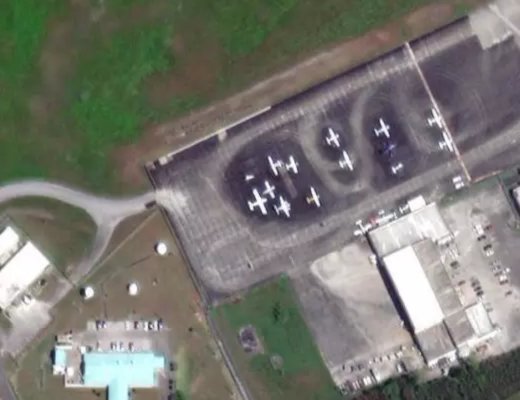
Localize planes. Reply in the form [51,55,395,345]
[401,200,412,213]
[246,189,267,214]
[355,220,371,235]
[337,150,353,170]
[304,187,321,207]
[374,119,390,137]
[390,160,402,174]
[268,156,283,175]
[260,182,274,197]
[284,156,299,173]
[437,131,453,151]
[427,109,442,127]
[274,196,291,217]
[378,139,394,157]
[324,128,339,146]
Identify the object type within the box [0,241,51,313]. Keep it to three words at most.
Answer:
building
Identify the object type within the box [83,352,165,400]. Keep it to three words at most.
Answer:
building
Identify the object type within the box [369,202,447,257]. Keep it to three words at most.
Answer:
hangar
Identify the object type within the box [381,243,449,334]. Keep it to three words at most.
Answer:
hangar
